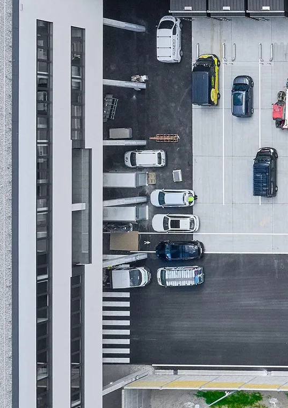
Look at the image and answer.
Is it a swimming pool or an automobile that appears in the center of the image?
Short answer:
automobile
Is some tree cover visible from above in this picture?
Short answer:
No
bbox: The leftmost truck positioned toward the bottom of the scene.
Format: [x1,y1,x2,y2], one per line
[104,266,154,288]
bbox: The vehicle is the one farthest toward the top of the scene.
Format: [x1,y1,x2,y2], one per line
[157,17,185,64]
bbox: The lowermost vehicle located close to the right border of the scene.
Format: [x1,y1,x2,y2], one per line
[252,148,280,199]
